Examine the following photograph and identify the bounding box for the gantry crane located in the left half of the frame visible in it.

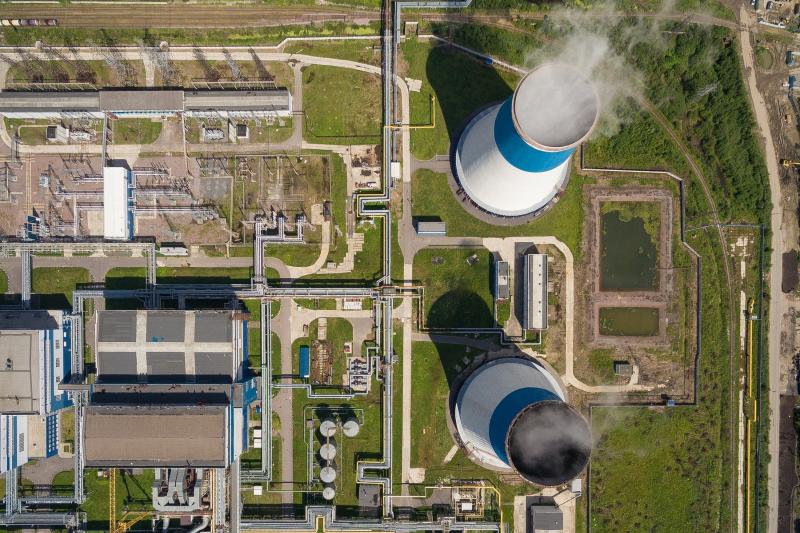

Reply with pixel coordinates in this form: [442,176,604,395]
[109,467,153,533]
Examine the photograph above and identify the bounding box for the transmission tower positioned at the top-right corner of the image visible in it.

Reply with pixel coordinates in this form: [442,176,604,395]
[690,80,720,99]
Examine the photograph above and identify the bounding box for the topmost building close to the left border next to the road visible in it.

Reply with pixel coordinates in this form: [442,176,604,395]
[0,89,294,123]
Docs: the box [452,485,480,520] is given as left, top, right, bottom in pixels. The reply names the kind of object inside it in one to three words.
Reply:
building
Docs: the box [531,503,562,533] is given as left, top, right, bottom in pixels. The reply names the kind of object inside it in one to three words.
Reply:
building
